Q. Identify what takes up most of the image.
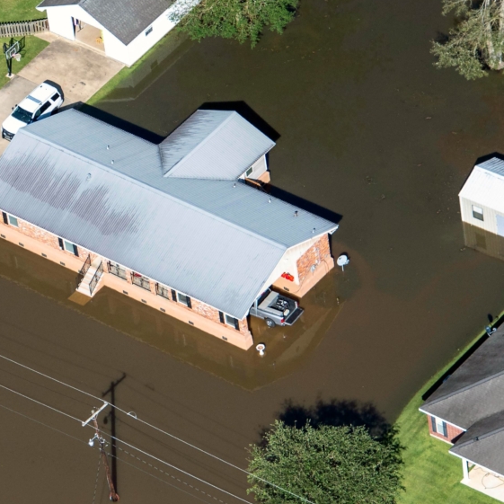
water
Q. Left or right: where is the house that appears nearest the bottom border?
right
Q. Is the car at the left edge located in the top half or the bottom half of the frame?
top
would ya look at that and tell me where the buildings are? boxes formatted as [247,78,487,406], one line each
[459,158,504,239]
[37,0,194,69]
[419,323,504,504]
[0,108,340,351]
